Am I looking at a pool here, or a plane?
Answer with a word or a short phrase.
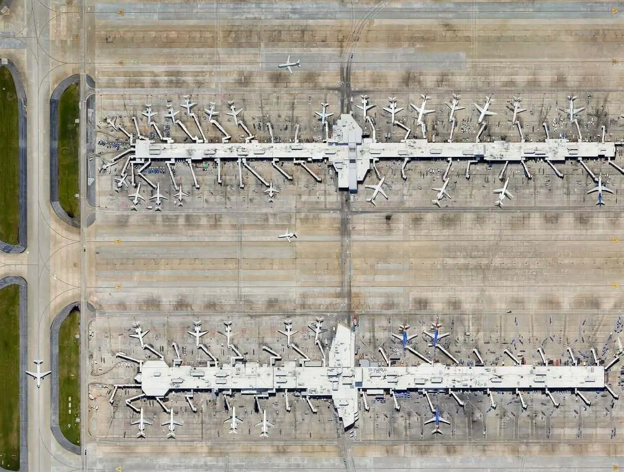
plane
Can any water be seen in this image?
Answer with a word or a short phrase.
No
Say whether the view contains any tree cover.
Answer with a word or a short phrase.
No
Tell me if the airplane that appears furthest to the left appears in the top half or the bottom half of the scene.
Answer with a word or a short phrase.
bottom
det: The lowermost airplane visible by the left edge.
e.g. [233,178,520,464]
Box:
[25,360,51,387]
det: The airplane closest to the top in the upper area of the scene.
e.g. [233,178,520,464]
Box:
[277,55,300,73]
